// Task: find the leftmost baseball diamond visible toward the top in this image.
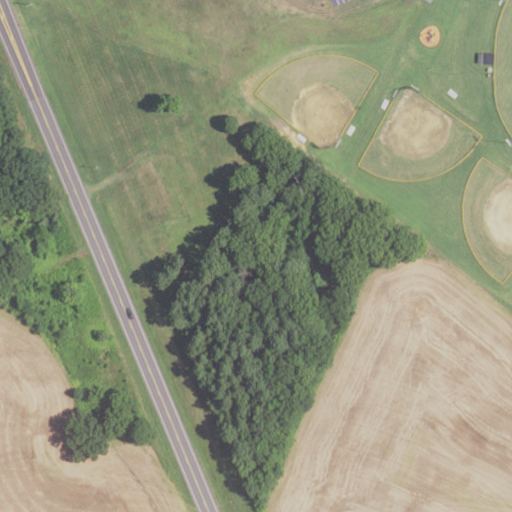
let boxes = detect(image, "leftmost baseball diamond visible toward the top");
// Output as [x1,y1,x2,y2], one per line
[254,54,379,148]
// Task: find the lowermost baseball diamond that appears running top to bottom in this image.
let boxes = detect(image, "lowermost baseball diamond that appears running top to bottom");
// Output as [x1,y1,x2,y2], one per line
[462,157,512,285]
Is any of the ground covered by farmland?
Yes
